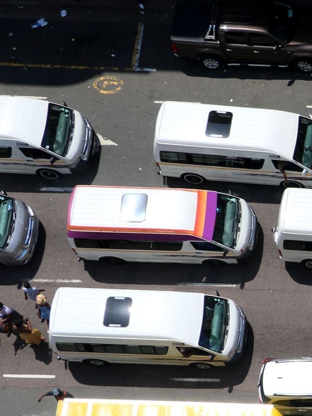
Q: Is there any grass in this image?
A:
No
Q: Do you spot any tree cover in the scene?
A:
No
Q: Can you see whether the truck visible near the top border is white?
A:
No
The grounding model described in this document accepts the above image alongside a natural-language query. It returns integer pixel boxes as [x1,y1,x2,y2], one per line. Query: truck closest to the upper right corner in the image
[173,0,312,72]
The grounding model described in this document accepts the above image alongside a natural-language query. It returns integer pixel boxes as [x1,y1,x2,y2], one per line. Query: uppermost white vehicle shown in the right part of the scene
[151,102,312,189]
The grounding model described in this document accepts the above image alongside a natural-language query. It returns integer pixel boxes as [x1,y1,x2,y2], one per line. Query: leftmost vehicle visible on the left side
[0,190,42,268]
